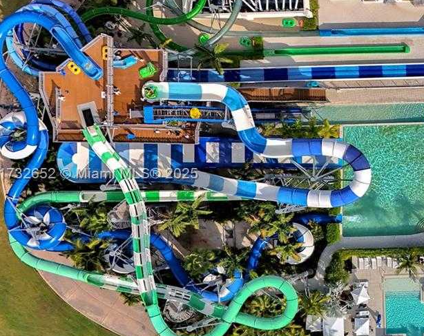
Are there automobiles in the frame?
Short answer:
No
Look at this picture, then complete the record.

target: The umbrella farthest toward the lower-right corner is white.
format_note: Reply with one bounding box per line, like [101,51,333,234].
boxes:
[355,318,371,334]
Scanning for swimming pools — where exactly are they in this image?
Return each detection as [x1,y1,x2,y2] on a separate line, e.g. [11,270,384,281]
[385,276,424,336]
[305,103,424,236]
